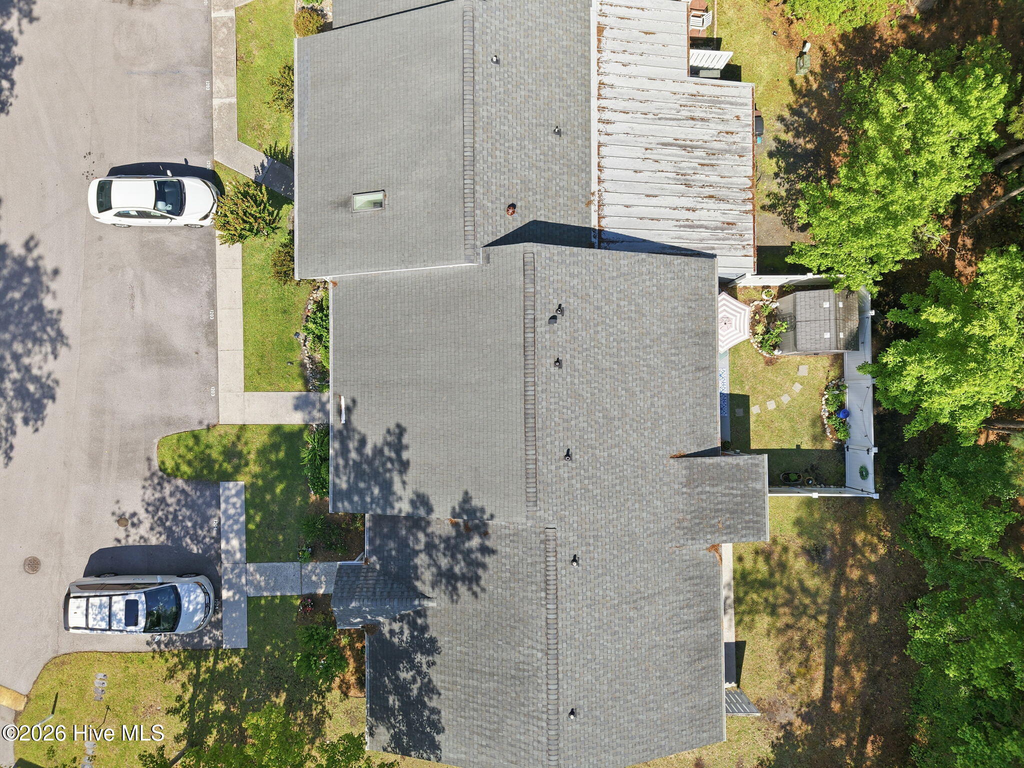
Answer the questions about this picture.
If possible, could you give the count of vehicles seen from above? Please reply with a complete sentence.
I count 2 vehicles.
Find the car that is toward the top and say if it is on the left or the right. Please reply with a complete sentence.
The car that is toward the top sits on the left side.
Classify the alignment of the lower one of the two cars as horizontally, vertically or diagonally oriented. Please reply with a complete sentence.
In this picture, the lower one of the two cars lies horizontally.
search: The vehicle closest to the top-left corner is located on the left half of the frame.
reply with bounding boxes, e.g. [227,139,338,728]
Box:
[88,166,225,228]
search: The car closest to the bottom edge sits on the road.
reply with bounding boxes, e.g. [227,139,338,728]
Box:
[65,571,214,639]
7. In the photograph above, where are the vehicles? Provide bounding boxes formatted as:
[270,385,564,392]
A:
[88,166,225,228]
[65,571,214,639]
